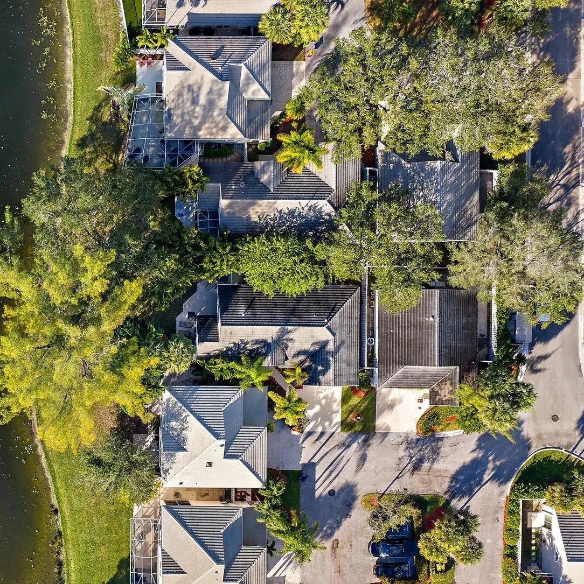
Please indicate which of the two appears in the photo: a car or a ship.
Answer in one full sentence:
Of the two, only a car appears.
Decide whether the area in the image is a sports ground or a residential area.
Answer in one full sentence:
It's a residential area.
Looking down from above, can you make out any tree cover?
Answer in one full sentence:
Yes, tree cover can be seen from above here.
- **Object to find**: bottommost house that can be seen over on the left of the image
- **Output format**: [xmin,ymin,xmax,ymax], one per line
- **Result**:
[159,504,267,584]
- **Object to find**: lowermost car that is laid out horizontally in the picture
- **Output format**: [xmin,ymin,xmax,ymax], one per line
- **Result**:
[374,562,412,581]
